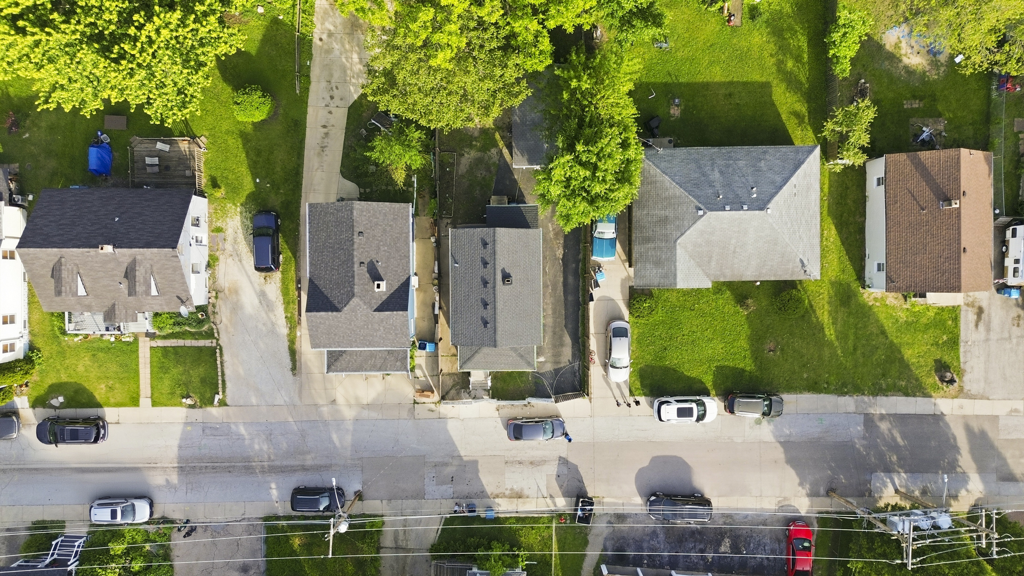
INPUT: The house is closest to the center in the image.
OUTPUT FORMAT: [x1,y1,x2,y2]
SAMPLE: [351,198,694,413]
[449,200,544,390]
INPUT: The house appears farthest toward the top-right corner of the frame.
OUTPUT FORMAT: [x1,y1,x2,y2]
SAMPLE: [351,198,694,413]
[865,147,997,305]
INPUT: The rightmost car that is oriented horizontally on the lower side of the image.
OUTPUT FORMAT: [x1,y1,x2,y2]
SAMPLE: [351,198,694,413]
[722,392,782,421]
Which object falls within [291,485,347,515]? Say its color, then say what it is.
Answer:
black car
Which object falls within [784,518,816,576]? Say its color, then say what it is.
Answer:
red car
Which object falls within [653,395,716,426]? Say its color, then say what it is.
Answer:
white car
